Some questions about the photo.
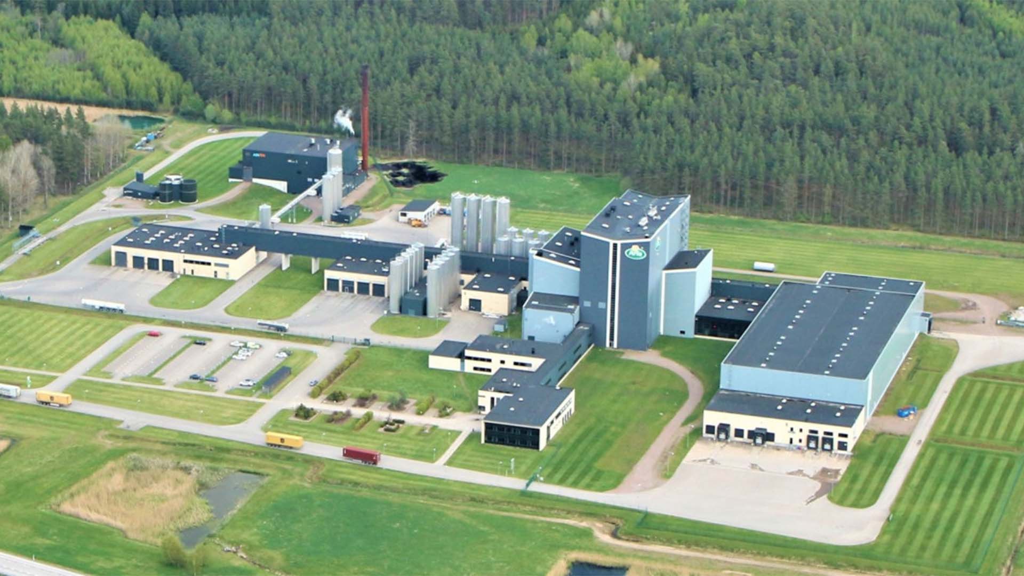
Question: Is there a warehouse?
Yes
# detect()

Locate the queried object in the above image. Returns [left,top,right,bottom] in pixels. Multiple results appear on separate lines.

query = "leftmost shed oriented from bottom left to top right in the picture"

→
[262,368,295,395]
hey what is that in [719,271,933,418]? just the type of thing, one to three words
warehouse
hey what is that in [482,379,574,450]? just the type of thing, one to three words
building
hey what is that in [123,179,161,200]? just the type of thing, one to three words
shed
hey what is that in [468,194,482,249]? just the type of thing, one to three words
silo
